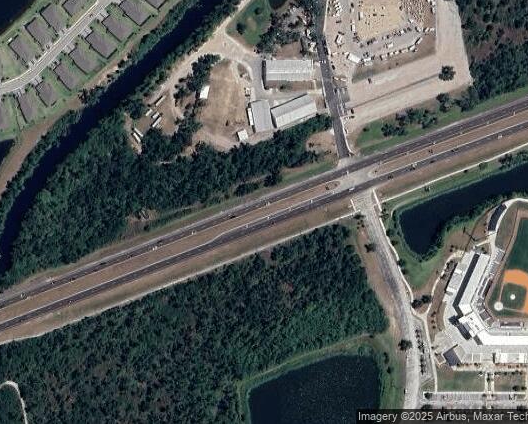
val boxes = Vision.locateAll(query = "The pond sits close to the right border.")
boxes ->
[399,163,528,254]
